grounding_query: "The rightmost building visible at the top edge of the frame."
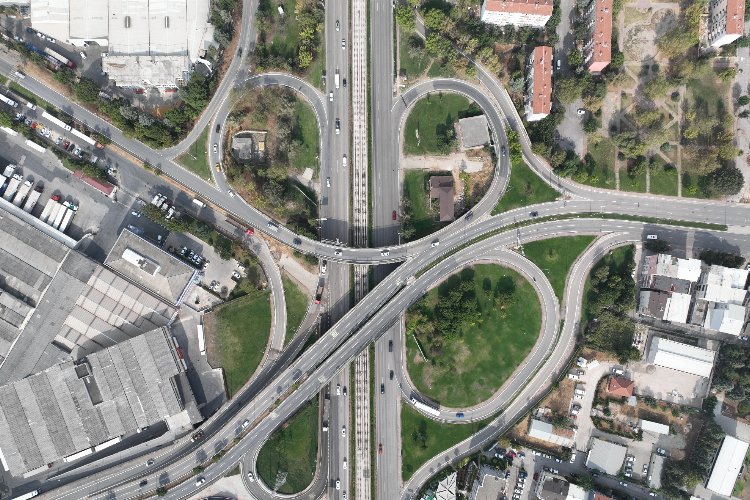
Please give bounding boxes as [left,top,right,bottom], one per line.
[707,0,746,46]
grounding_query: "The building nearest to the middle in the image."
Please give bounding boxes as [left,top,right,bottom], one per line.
[429,176,454,222]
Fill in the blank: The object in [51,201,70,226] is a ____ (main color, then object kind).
white vehicle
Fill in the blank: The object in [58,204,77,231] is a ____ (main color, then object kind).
white vehicle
